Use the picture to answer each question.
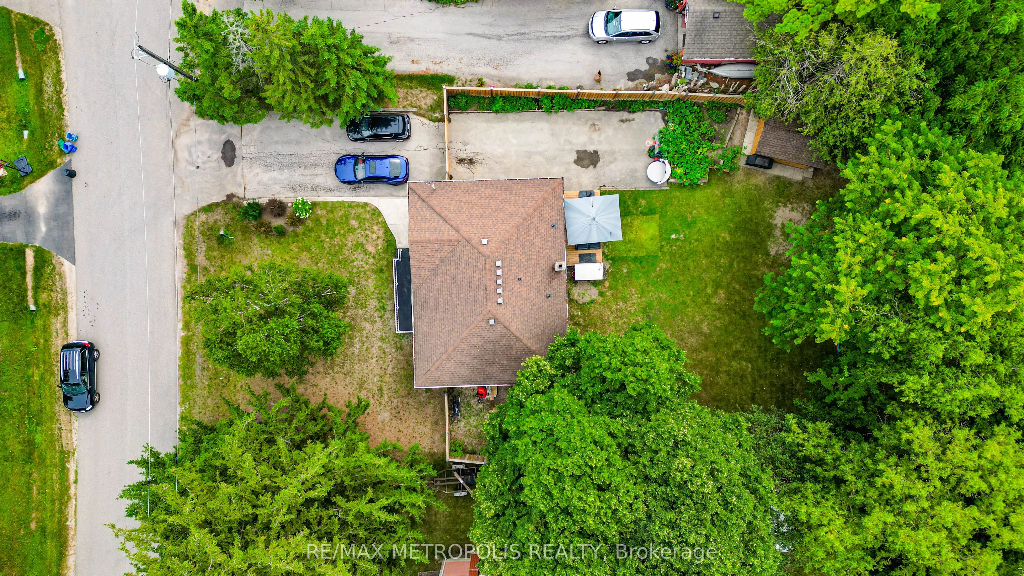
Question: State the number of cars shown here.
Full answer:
There are 4 cars in the image.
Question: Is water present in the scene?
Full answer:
No, there is no water in the image.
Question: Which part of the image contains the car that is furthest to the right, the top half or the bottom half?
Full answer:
The car that is furthest to the right sits in the top half of the picture.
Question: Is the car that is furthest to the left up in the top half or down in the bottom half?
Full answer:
The car that is furthest to the left is in the bottom half of the image.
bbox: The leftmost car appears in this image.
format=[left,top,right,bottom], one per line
[59,340,101,412]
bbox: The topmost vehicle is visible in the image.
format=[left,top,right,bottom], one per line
[587,5,662,46]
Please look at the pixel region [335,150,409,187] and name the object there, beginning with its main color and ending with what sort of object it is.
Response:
blue car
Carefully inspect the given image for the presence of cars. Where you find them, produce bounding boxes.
[346,107,412,143]
[587,5,662,46]
[59,340,101,412]
[335,150,409,187]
